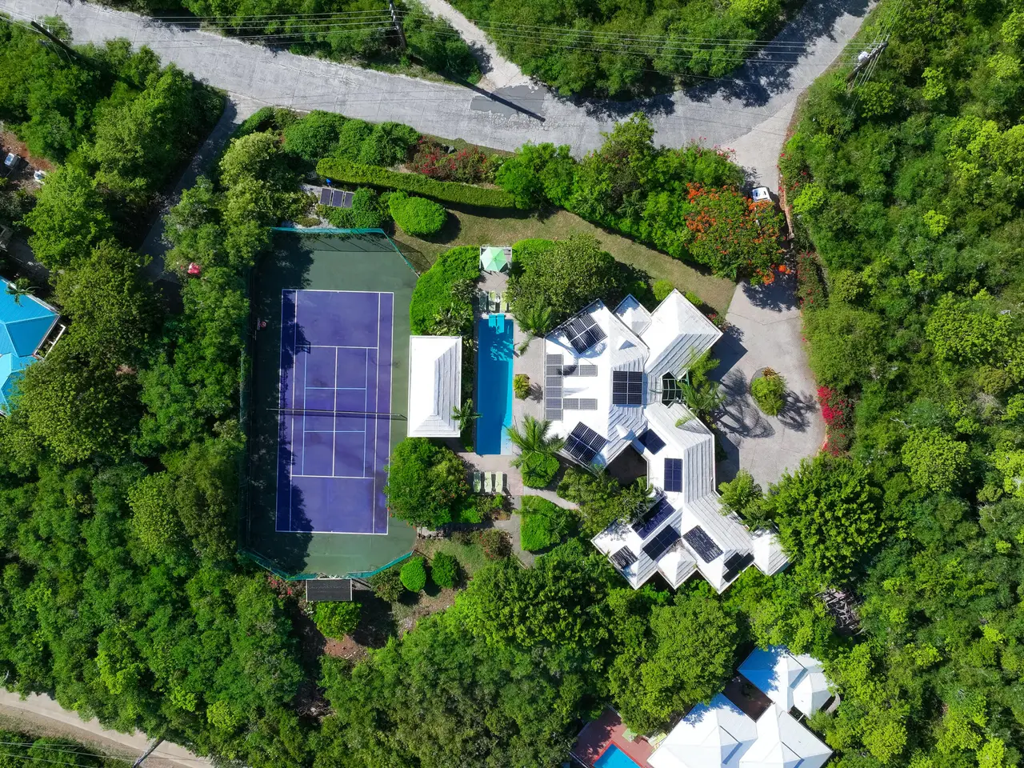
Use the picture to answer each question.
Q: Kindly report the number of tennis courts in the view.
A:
1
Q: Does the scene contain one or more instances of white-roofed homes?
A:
Yes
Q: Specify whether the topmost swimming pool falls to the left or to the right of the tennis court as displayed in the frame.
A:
right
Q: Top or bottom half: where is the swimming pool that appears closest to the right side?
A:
bottom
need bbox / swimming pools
[590,740,648,768]
[473,312,517,459]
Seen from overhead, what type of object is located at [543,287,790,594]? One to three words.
house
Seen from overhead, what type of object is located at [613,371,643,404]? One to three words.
solar array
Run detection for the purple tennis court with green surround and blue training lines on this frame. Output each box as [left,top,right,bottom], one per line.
[250,234,421,574]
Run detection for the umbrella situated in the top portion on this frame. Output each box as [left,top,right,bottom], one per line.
[480,247,508,272]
